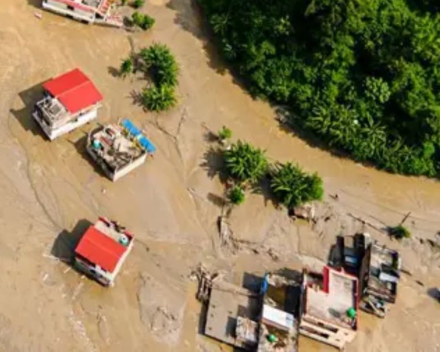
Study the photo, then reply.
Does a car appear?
No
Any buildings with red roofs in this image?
Yes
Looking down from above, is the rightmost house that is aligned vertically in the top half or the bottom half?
bottom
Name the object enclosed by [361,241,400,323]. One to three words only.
house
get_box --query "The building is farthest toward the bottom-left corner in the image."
[75,217,133,287]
